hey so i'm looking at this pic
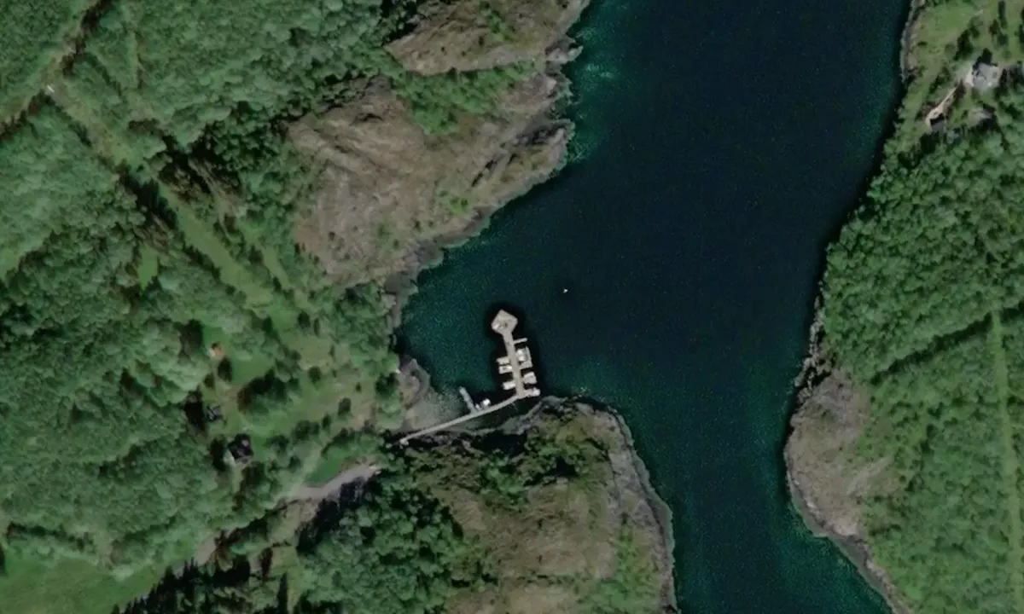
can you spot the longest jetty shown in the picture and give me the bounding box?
[492,309,536,399]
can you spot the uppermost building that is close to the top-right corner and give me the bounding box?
[969,64,999,89]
